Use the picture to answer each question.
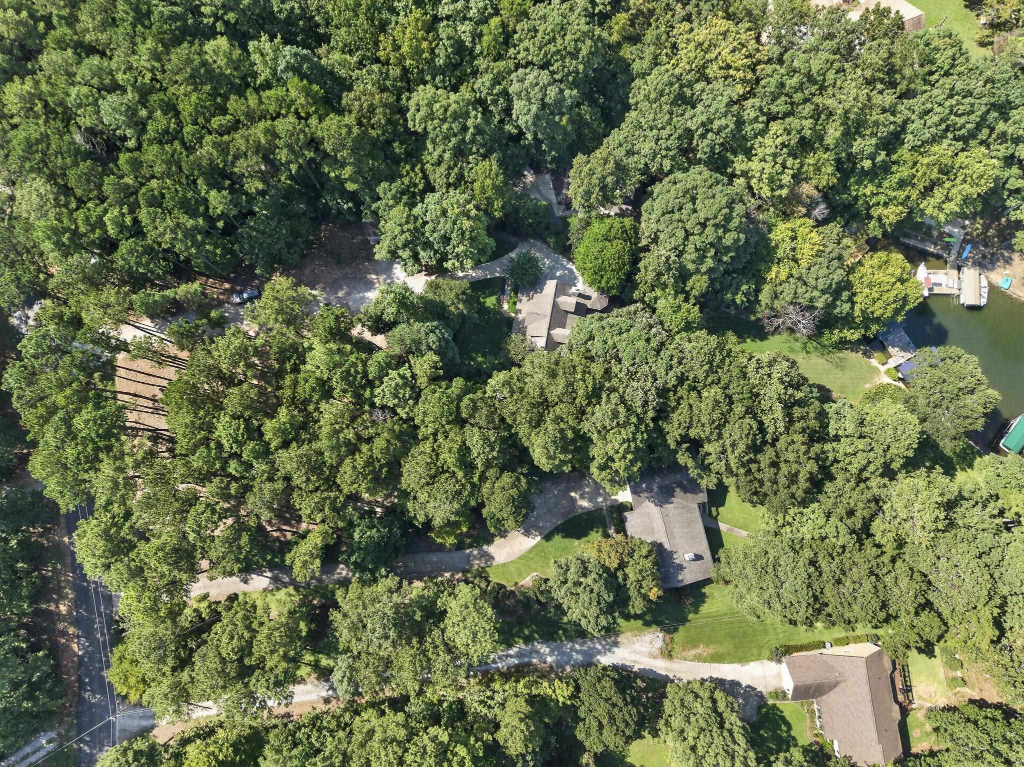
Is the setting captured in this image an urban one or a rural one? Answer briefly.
rural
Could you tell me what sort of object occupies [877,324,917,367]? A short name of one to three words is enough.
pier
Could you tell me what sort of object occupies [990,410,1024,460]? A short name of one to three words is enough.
building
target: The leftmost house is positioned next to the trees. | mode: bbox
[509,280,609,355]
